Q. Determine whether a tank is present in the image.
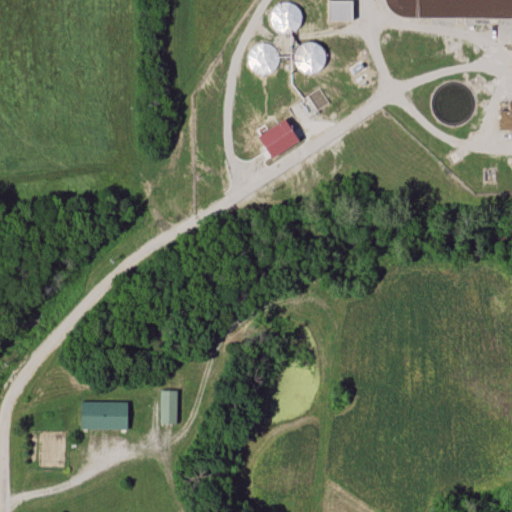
Yes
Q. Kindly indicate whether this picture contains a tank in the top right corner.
Yes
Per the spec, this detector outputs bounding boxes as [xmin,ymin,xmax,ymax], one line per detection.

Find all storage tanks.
[294,42,328,75]
[270,0,303,34]
[430,80,478,128]
[247,43,280,76]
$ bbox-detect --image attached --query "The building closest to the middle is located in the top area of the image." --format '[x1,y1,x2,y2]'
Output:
[260,120,300,157]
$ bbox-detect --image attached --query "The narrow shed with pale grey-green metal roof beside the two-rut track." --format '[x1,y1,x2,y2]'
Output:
[160,390,178,426]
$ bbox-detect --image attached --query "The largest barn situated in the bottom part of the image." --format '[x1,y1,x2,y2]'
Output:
[81,402,128,431]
